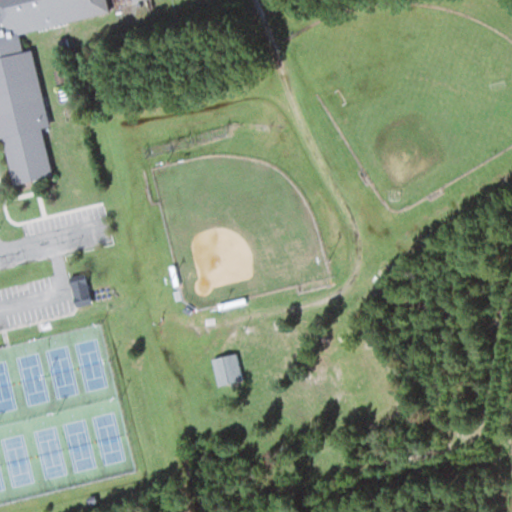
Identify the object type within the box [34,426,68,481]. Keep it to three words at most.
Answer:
tennis court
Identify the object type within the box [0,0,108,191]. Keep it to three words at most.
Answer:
building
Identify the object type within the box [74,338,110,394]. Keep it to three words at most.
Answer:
tennis court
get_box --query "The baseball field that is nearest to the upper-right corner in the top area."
[300,2,512,211]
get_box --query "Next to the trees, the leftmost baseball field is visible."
[152,154,332,310]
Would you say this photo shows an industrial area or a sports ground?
sports ground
